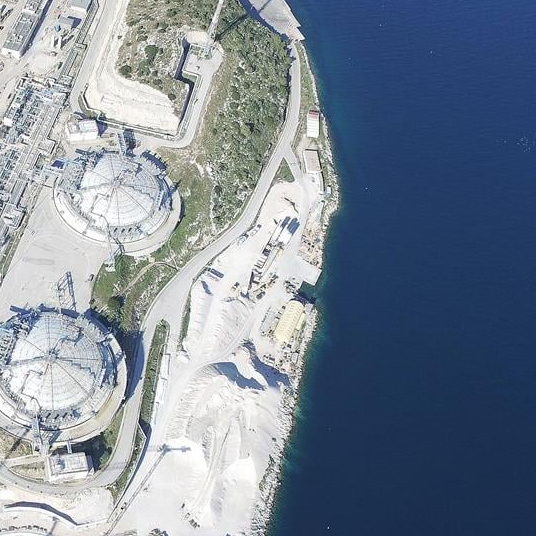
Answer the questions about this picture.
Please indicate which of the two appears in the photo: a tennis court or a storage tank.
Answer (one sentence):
It is a storage tank that can be seen here.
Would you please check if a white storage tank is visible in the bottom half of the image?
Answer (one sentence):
Yes, looking in the bottom half of the image, one can make out a white storage tank.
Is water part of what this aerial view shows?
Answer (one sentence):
Yes, there's water in this view.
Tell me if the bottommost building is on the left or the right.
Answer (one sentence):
It is on the left.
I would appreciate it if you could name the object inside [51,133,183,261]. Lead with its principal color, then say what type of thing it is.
white storage tank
